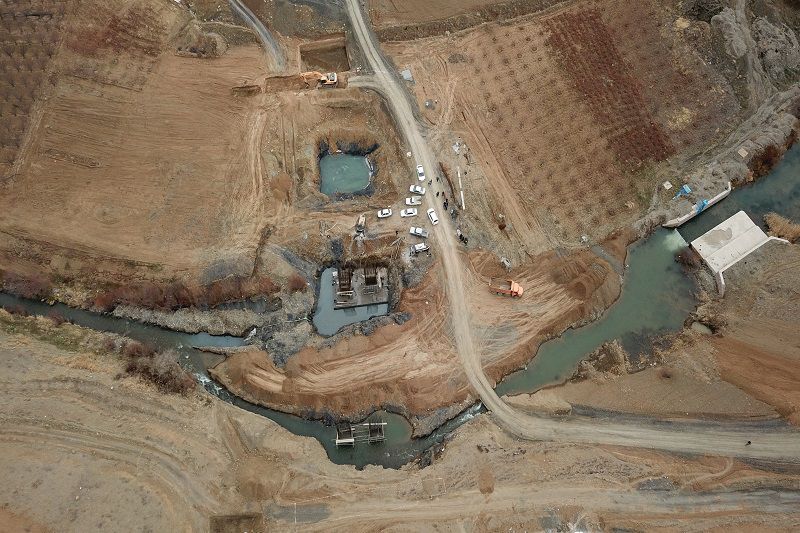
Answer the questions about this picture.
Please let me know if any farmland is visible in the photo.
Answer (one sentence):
Yes, there's farmland in this view.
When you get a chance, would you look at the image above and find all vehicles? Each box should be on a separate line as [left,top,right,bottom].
[377,209,392,217]
[417,166,425,179]
[411,244,428,254]
[401,208,416,216]
[410,227,428,238]
[405,196,423,205]
[428,210,438,223]
[491,277,526,297]
[301,69,339,88]
[409,185,424,195]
